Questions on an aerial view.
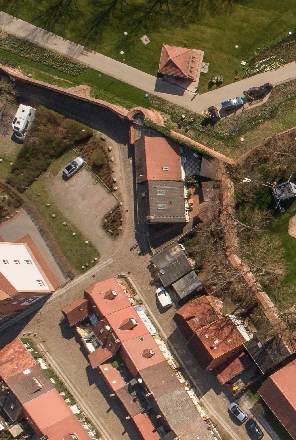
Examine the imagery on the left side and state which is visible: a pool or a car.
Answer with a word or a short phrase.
car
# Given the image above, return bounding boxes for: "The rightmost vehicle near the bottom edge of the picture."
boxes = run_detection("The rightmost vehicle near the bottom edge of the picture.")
[244,416,268,440]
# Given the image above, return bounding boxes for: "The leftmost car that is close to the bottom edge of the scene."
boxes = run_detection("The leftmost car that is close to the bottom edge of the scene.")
[225,400,251,426]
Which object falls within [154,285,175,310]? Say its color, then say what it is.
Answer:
white car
